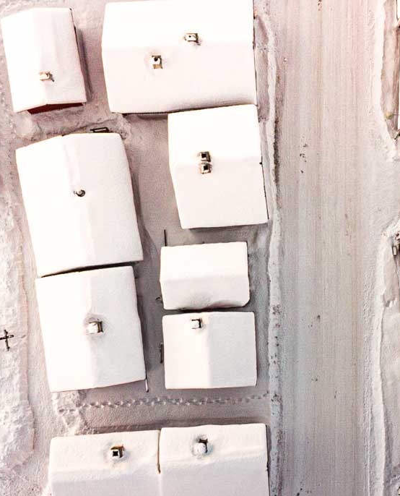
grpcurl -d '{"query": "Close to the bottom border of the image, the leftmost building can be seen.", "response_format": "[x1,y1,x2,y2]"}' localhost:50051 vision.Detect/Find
[50,430,166,496]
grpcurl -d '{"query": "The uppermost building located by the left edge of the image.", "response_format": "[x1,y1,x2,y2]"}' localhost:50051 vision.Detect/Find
[2,9,87,118]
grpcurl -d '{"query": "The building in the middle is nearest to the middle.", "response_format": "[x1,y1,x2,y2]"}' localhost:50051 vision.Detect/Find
[160,243,250,310]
